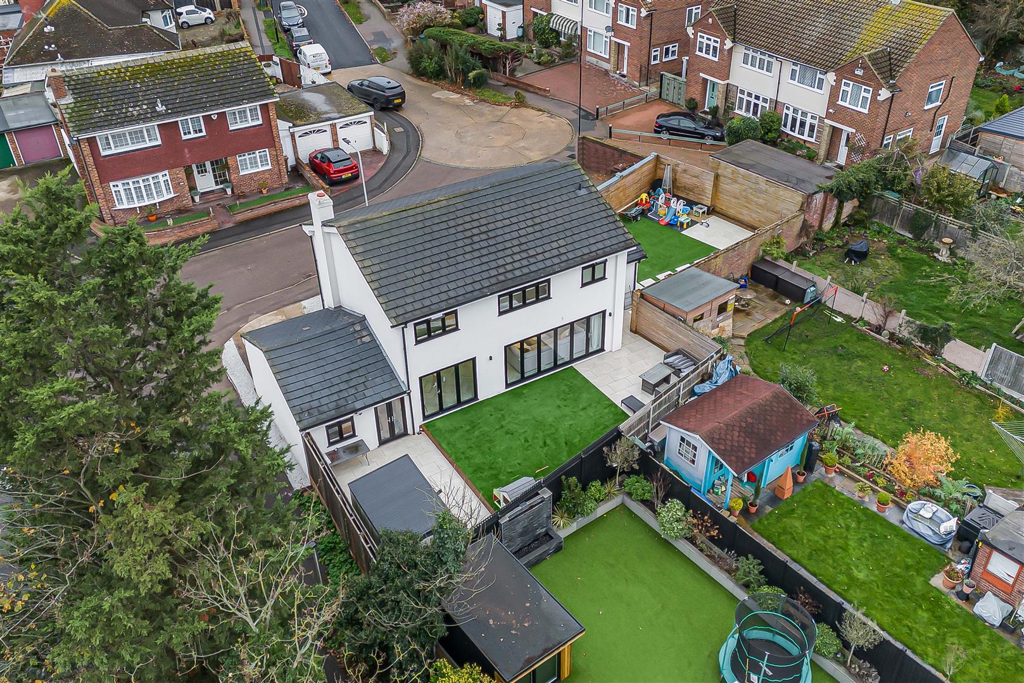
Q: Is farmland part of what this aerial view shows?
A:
No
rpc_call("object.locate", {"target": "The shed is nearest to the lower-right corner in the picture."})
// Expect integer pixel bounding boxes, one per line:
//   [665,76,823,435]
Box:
[967,479,1024,608]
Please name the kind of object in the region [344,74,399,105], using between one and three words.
car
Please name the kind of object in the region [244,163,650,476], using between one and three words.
house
